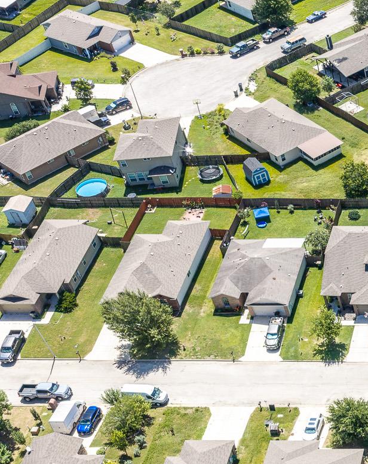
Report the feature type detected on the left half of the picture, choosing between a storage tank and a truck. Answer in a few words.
truck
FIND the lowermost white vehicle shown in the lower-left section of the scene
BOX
[47,395,90,433]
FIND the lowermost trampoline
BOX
[197,163,220,183]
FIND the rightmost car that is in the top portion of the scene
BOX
[305,10,327,23]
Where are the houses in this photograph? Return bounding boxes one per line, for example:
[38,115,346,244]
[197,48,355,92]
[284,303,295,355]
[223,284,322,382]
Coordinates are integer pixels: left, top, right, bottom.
[0,111,111,185]
[14,432,100,464]
[321,226,368,316]
[264,441,364,464]
[0,54,60,106]
[314,33,368,86]
[227,99,343,169]
[114,109,195,188]
[96,221,210,326]
[210,238,307,317]
[0,220,100,316]
[0,0,35,19]
[219,0,268,22]
[29,10,134,59]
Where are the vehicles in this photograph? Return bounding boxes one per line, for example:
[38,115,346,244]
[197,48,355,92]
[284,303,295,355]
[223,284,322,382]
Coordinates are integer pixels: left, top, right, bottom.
[0,328,23,360]
[262,25,292,41]
[281,33,308,51]
[65,75,98,87]
[264,317,283,348]
[93,110,110,124]
[78,404,99,434]
[104,96,131,112]
[305,10,327,23]
[20,383,68,401]
[118,383,168,405]
[47,395,90,433]
[228,39,260,56]
[303,410,325,440]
